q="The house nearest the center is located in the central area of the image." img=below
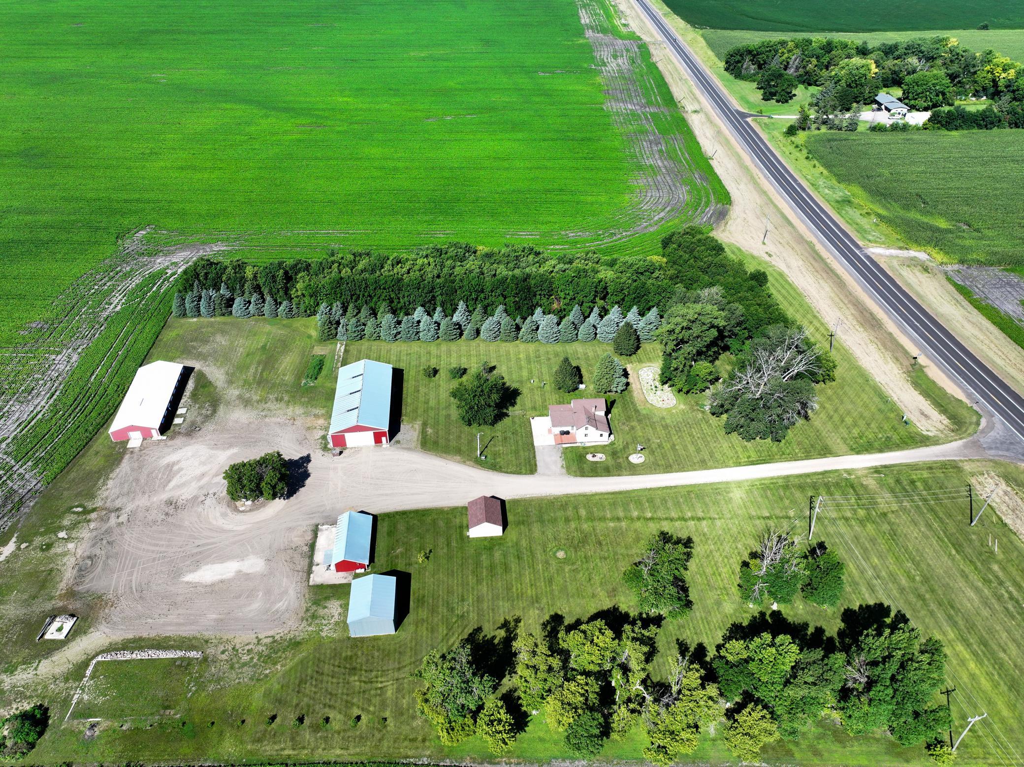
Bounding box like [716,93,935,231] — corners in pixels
[548,398,611,442]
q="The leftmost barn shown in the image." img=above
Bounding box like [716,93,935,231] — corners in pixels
[109,359,186,441]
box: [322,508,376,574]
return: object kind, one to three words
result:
shed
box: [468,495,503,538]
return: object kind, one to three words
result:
building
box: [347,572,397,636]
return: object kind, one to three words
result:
shed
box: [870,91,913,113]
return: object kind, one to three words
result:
house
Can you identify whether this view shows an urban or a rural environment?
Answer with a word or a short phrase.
rural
